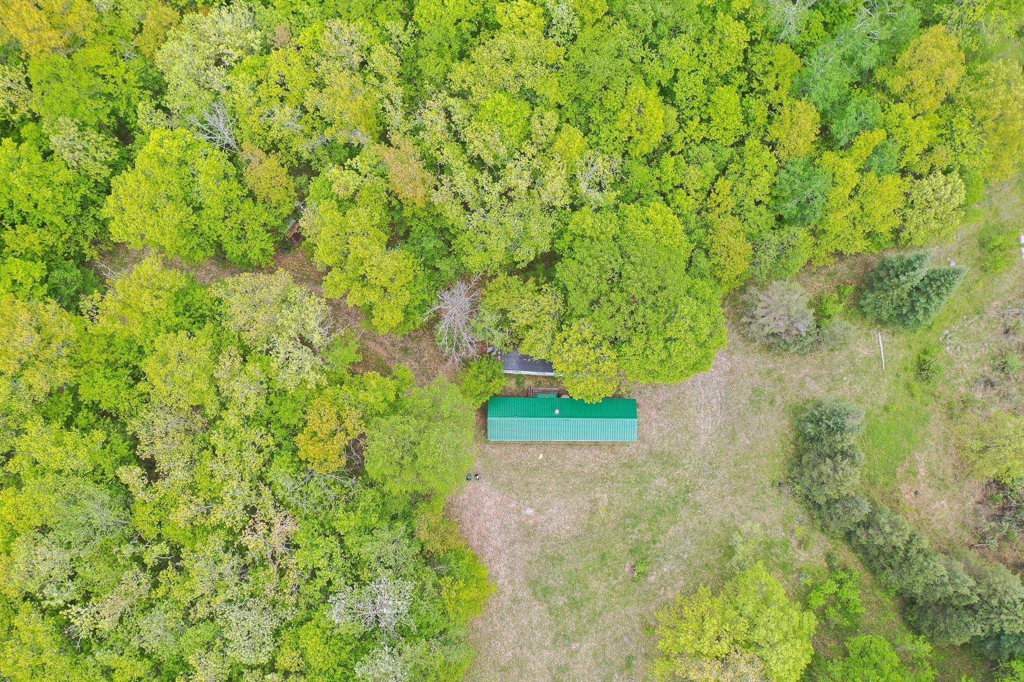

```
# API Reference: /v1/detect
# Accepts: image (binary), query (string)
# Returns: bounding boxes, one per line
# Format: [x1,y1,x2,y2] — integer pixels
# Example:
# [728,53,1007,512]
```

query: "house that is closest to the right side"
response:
[487,394,638,442]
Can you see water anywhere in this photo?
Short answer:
No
